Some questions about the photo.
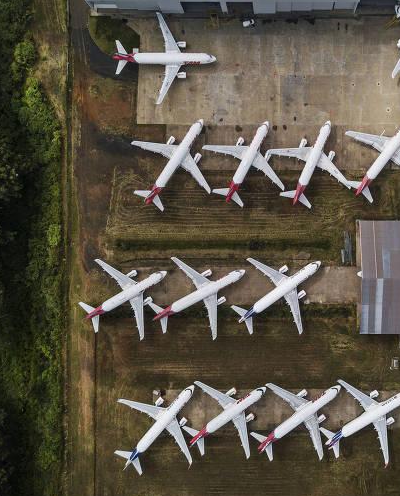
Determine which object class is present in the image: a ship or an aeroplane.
aeroplane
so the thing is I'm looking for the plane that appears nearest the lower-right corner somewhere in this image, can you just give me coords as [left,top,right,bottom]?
[320,380,400,466]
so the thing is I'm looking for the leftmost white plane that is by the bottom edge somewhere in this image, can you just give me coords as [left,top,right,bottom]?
[116,385,196,473]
